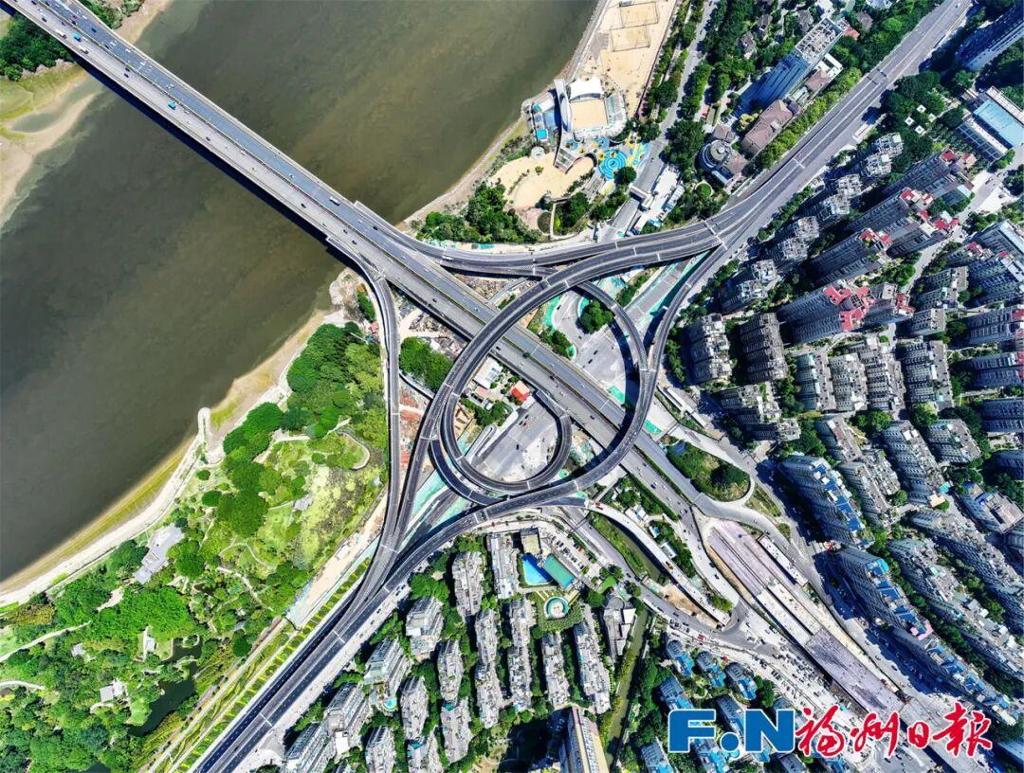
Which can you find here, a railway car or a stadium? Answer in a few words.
stadium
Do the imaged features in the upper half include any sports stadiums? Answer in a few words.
Yes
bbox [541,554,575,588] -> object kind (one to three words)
swimming pool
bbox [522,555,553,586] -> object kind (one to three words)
swimming pool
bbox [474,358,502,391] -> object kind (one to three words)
building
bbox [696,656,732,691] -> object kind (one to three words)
house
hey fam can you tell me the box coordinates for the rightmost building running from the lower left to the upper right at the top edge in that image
[962,3,1024,77]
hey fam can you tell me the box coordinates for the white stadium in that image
[553,74,625,176]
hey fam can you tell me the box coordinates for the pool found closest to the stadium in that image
[545,108,558,128]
